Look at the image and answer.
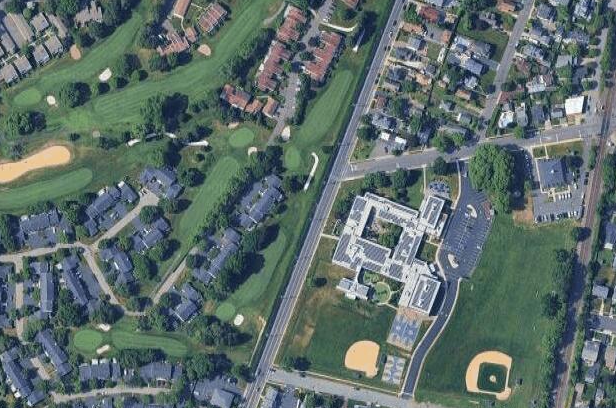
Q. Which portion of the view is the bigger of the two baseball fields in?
bottom right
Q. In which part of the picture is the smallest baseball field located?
bottom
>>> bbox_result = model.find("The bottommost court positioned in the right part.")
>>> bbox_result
[382,355,405,385]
